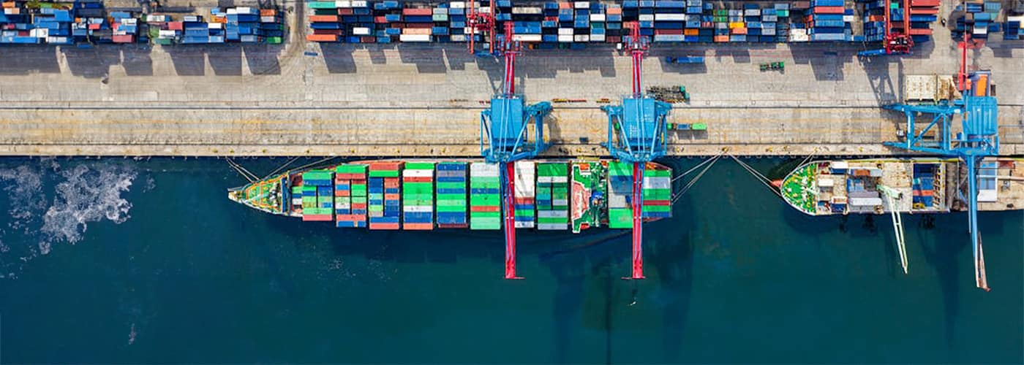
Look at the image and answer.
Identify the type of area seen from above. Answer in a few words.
port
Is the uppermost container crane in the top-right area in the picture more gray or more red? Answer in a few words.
red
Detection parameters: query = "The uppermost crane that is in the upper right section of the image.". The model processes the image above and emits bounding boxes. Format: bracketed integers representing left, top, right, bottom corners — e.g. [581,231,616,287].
[859,0,913,57]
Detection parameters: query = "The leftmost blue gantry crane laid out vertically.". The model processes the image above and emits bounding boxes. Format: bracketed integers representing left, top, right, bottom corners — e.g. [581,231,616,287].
[481,19,548,280]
